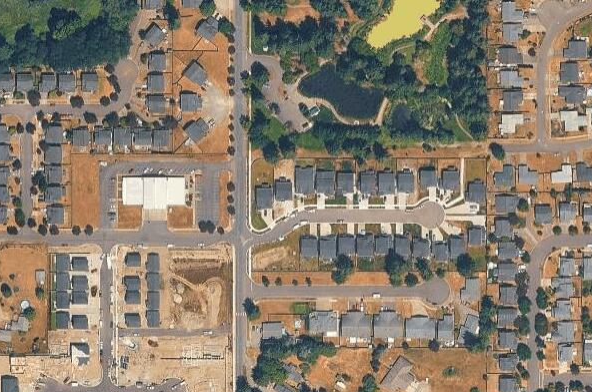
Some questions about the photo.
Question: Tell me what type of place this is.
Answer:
residential area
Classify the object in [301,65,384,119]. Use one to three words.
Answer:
pond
